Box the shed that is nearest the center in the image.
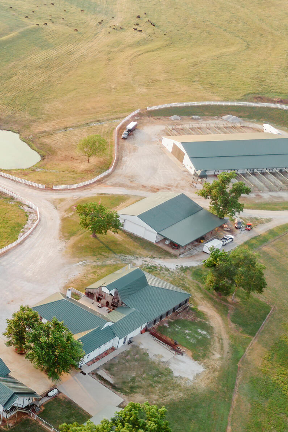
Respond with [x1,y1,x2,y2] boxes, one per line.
[116,191,227,258]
